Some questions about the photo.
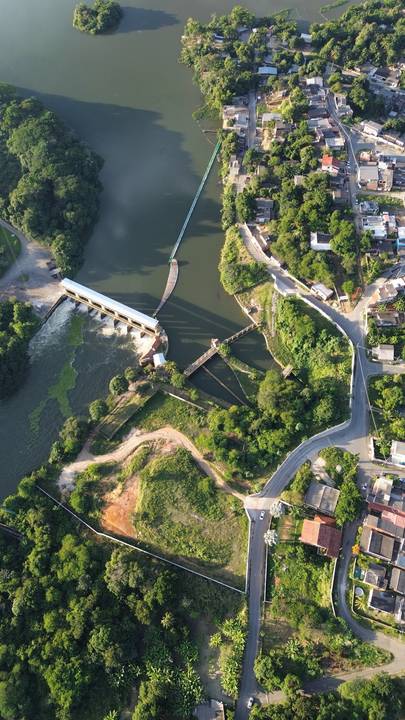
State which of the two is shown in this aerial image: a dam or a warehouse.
dam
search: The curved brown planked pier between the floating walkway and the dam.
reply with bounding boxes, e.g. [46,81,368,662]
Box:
[154,260,179,321]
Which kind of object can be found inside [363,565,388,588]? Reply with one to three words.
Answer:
house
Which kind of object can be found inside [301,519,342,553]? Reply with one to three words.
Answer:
house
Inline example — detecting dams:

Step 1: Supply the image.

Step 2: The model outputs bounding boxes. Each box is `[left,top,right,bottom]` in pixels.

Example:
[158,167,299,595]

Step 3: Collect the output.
[58,277,162,348]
